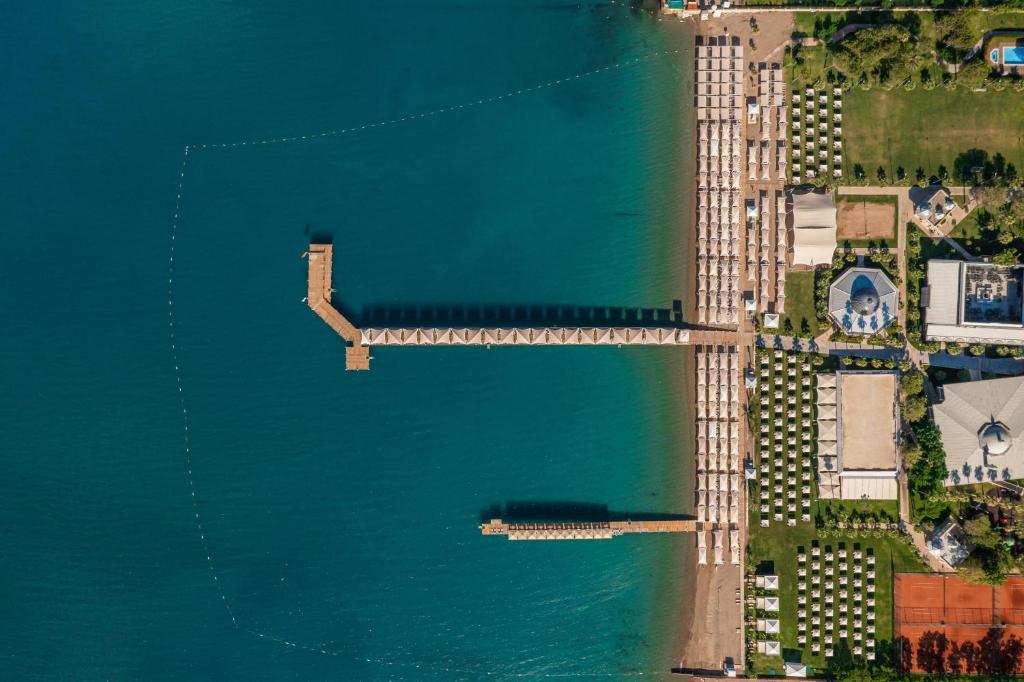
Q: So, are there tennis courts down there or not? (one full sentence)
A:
Yes, looking at the shot, I can spot a tennis court.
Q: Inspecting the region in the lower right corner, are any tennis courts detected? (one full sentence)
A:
Yes, looking in the lower right corner, one can make out a tennis court.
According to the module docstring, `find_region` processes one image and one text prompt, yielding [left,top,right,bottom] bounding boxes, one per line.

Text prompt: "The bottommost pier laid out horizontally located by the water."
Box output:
[478,519,744,539]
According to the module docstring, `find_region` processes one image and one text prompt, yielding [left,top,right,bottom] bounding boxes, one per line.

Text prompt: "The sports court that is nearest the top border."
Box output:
[838,200,895,239]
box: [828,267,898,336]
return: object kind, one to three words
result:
building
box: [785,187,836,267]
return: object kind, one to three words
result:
tent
